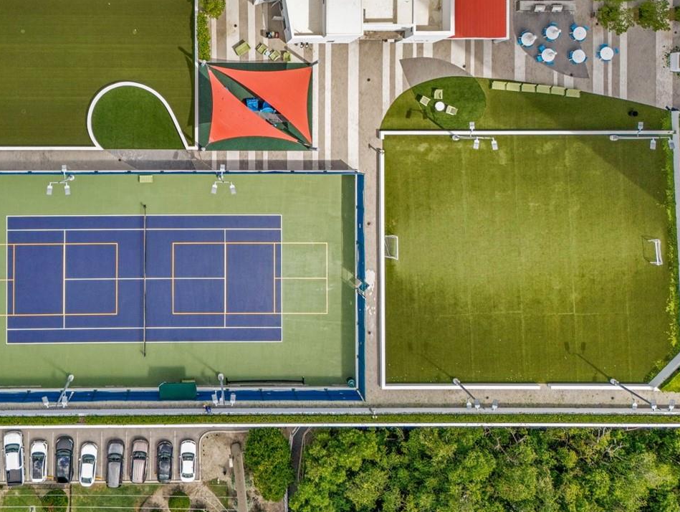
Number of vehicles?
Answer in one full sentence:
My tally gives 8 vehicles in this view.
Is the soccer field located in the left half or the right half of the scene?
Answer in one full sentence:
The soccer field is on the right side of the image.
